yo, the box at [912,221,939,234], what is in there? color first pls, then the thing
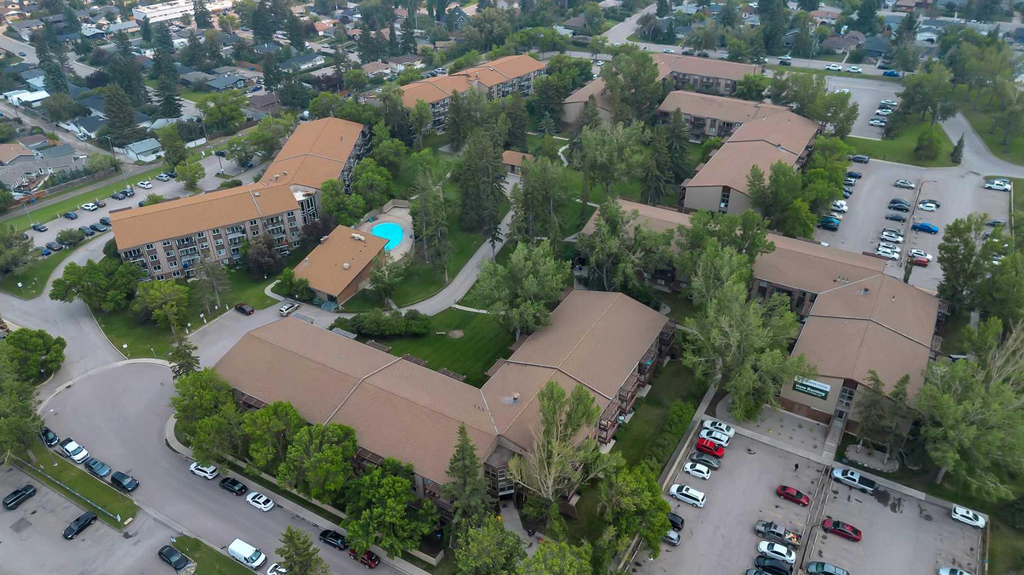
blue vehicle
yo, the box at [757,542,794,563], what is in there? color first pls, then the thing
white car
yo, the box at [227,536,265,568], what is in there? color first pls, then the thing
white van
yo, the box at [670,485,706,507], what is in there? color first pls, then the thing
white car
